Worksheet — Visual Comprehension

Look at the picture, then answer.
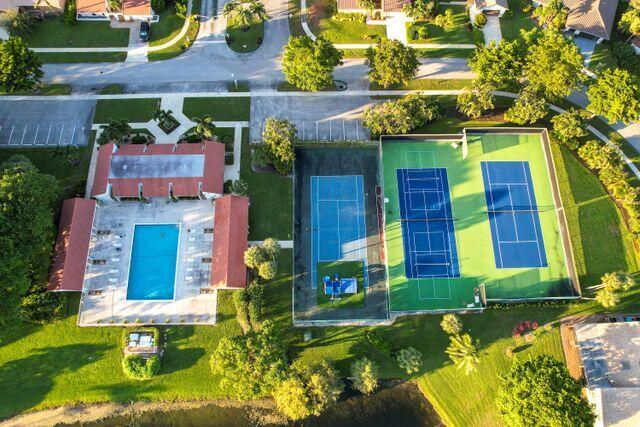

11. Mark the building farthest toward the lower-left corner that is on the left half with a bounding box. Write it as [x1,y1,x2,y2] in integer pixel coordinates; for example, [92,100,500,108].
[49,198,99,291]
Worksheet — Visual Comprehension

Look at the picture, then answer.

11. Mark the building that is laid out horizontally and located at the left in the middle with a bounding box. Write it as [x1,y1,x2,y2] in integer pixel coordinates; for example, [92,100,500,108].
[91,141,225,203]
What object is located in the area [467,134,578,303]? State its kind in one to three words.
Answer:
tennis court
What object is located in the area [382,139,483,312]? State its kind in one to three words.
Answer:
tennis court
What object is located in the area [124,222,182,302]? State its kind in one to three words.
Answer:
swimming pool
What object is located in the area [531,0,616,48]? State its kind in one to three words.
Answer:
house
